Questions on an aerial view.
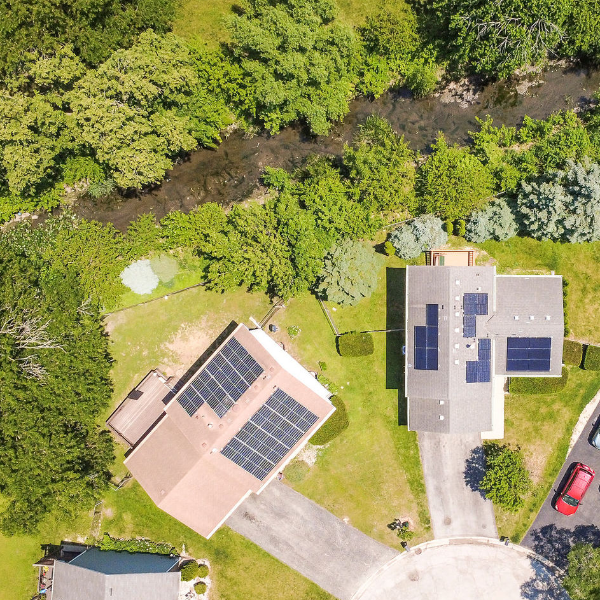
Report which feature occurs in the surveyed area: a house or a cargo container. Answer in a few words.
house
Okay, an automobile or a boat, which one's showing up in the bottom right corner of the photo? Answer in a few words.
automobile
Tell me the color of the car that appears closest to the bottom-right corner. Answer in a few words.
red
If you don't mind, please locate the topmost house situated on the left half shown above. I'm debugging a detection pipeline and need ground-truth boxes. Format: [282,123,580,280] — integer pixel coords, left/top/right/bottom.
[124,323,338,539]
